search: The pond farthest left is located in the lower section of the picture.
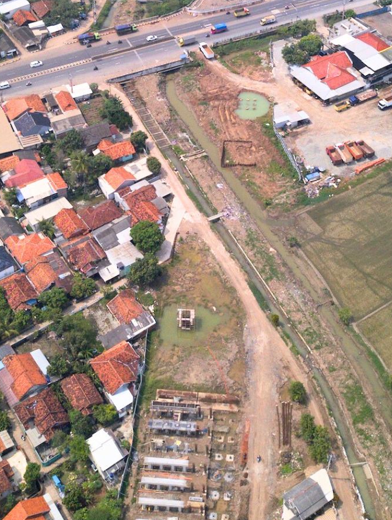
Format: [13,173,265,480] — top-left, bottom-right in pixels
[152,301,229,348]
